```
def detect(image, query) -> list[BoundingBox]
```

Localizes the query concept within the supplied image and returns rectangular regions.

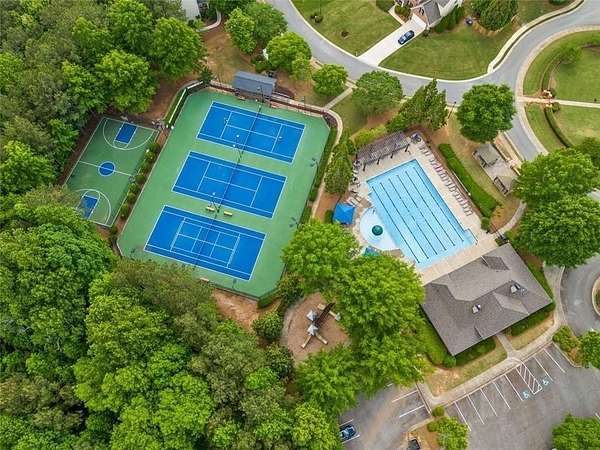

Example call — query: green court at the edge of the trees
[63,117,159,225]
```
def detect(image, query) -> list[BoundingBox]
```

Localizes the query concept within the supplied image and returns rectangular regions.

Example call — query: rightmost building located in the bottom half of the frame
[422,243,551,356]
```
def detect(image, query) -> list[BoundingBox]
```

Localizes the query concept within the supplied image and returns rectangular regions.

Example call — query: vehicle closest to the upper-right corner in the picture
[398,28,415,42]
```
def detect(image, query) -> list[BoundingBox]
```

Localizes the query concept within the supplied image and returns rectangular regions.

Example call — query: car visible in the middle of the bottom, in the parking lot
[344,424,360,440]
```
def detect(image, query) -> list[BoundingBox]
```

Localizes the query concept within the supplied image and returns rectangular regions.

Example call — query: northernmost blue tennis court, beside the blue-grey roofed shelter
[196,102,306,163]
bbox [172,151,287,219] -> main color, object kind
blue tennis court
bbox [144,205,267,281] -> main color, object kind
blue tennis court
